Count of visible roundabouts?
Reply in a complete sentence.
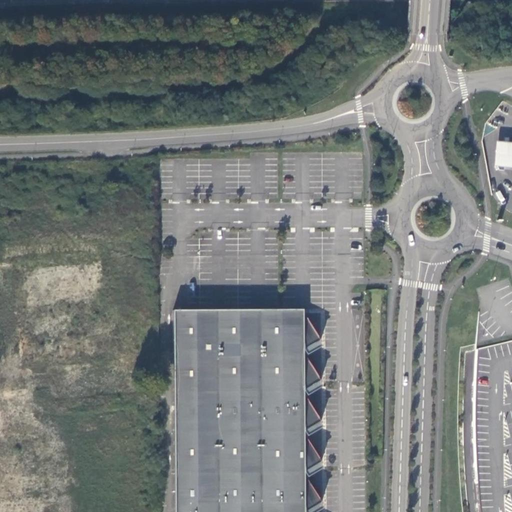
Looking from above, you can make out 2 roundabouts.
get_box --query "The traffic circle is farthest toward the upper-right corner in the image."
[380,69,446,135]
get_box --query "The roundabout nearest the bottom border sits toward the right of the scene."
[400,186,466,252]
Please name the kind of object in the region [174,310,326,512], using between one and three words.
building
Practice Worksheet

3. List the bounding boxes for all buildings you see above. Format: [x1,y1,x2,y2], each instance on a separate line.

[174,310,326,512]
[496,140,512,171]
